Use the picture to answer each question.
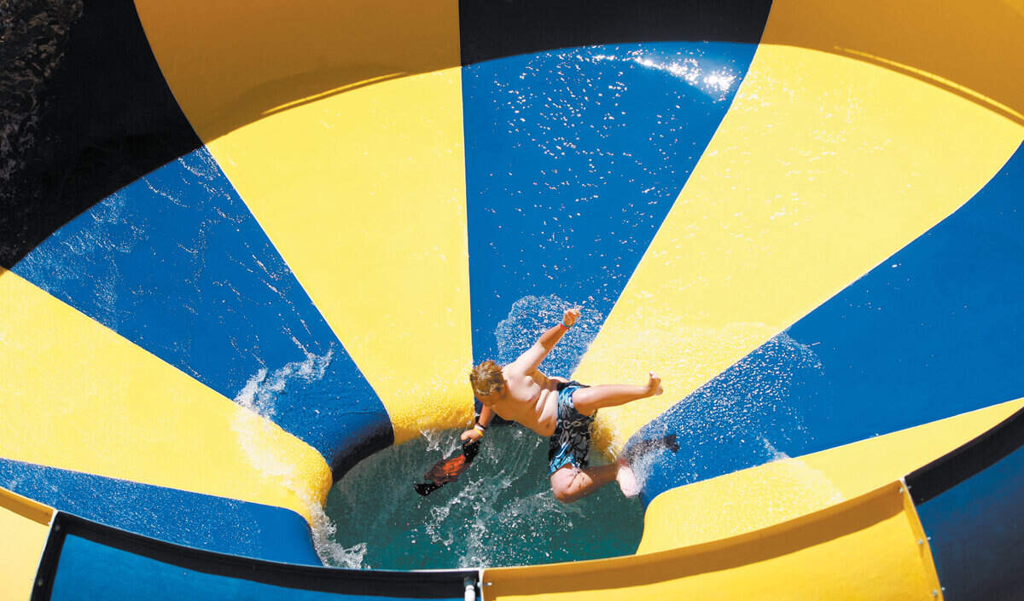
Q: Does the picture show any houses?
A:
No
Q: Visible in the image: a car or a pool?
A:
pool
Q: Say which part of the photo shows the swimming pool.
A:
bottom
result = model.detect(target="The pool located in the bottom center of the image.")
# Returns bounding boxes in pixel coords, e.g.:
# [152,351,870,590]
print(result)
[313,429,644,568]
